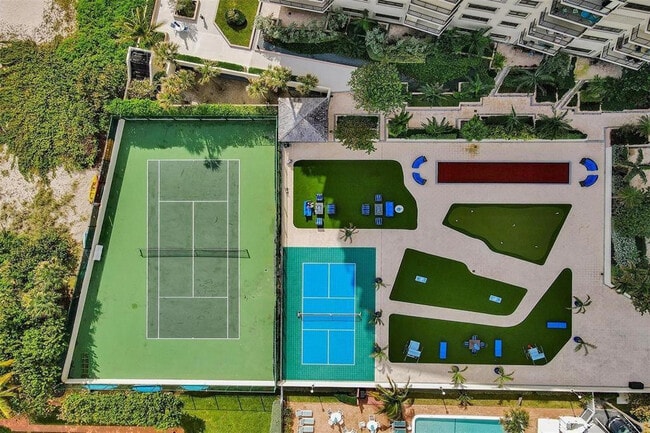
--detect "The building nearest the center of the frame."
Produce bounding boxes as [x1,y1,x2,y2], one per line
[278,98,329,142]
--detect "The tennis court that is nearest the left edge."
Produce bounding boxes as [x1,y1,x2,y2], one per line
[72,120,276,378]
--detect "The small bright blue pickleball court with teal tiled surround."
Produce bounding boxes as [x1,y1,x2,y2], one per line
[284,247,375,381]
